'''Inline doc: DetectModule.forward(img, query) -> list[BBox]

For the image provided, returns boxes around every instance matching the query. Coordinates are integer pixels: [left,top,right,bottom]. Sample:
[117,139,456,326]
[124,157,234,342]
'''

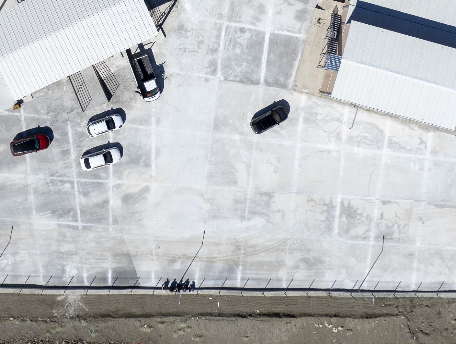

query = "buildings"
[0,0,158,101]
[319,20,456,132]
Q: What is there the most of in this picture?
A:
paved ground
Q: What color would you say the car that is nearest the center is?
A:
black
